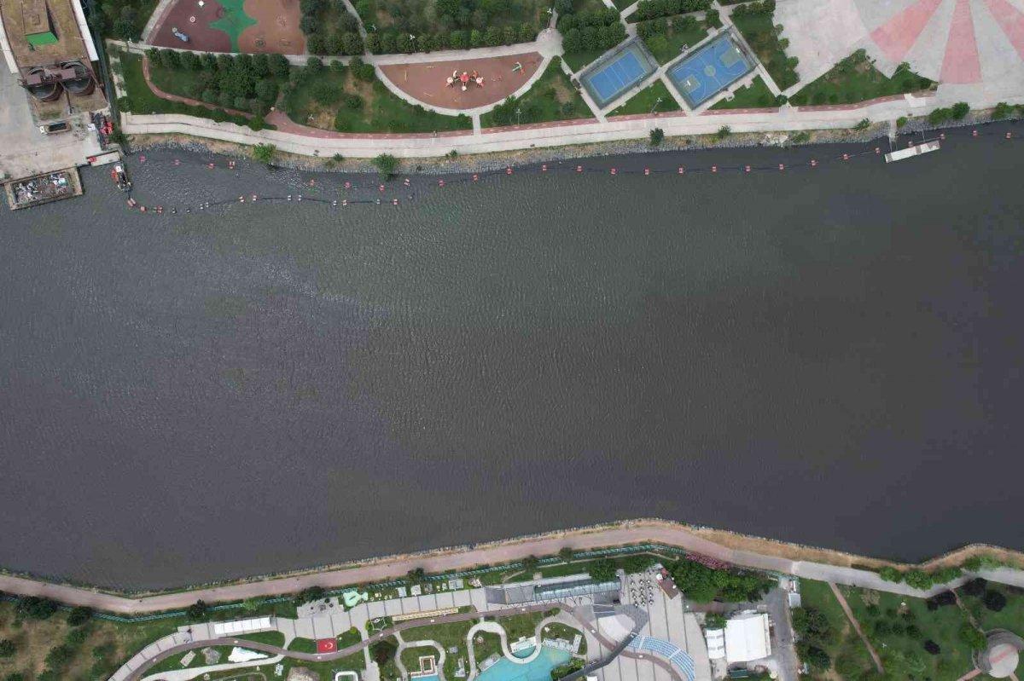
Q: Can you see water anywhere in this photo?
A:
Yes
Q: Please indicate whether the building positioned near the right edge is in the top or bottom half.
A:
bottom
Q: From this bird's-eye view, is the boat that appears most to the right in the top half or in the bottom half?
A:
top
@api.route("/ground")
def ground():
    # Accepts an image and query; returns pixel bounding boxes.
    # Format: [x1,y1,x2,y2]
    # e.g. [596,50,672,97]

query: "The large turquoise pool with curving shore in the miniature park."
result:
[478,644,572,681]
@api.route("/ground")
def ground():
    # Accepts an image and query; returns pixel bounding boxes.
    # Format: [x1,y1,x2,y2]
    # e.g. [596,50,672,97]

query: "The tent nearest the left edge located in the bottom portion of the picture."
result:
[597,613,635,641]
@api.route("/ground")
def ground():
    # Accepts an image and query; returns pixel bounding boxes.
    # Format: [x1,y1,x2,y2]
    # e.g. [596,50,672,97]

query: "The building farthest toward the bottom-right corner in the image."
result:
[984,644,1019,676]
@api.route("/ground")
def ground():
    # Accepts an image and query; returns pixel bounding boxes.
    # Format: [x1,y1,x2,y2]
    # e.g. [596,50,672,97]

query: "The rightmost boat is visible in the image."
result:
[117,165,140,202]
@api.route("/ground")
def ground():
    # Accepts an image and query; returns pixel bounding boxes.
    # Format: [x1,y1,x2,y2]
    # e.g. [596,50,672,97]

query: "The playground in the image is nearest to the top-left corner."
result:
[151,0,305,54]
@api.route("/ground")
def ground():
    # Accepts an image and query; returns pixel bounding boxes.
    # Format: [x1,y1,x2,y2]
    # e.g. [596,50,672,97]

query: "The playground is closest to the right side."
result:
[378,51,544,110]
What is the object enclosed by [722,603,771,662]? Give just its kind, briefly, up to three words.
building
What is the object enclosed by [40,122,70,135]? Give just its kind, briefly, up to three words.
vehicle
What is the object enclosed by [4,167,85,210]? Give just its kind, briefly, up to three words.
ship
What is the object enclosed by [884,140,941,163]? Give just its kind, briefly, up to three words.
pier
